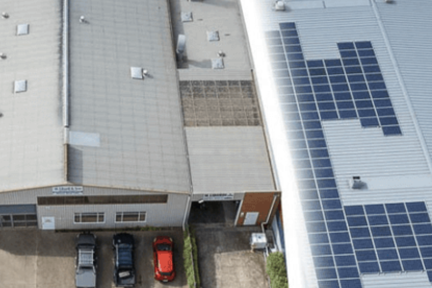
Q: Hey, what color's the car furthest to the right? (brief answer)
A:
red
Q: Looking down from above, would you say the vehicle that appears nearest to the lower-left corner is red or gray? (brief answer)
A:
gray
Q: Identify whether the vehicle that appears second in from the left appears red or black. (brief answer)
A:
black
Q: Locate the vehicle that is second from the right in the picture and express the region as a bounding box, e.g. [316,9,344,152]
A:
[111,233,138,288]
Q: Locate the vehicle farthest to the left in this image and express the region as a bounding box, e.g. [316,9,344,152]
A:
[72,234,100,288]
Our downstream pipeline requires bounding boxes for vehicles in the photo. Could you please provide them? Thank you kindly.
[152,236,177,283]
[111,233,138,288]
[72,234,100,288]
